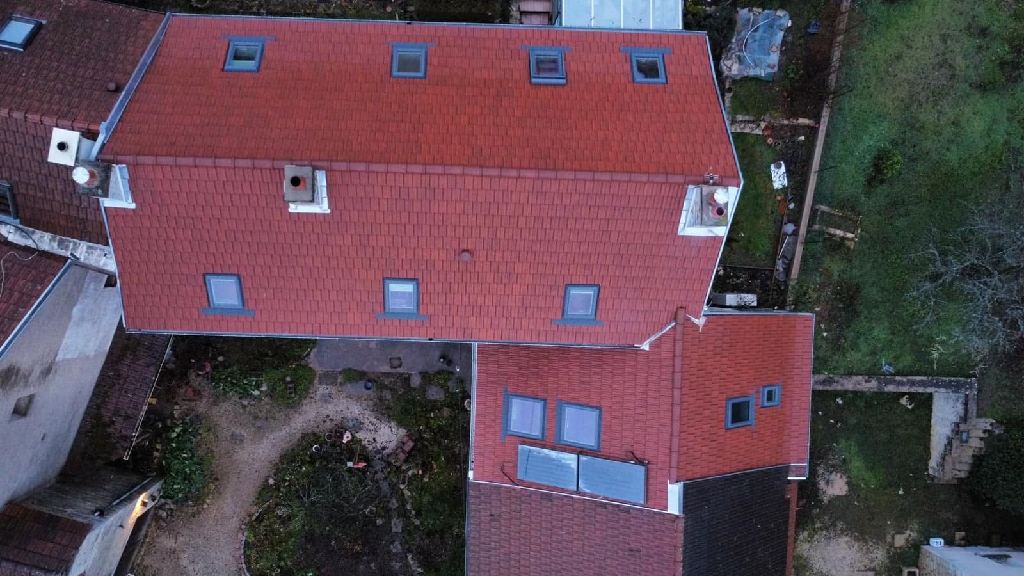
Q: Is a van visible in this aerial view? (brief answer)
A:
No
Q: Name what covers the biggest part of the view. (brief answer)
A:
buildings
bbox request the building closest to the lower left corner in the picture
[0,463,161,576]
